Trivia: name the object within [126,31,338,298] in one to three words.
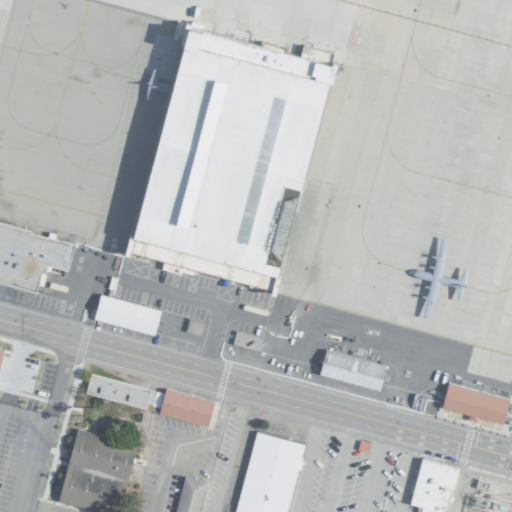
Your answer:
hangar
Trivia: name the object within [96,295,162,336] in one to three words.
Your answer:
building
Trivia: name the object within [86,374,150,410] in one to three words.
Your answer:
building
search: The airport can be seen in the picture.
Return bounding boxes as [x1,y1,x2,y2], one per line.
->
[0,0,512,382]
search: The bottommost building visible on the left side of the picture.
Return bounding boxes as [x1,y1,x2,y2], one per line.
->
[176,477,208,512]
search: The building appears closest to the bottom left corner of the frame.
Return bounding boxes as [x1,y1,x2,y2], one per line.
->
[60,429,137,512]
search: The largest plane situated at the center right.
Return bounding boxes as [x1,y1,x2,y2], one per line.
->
[414,239,468,319]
